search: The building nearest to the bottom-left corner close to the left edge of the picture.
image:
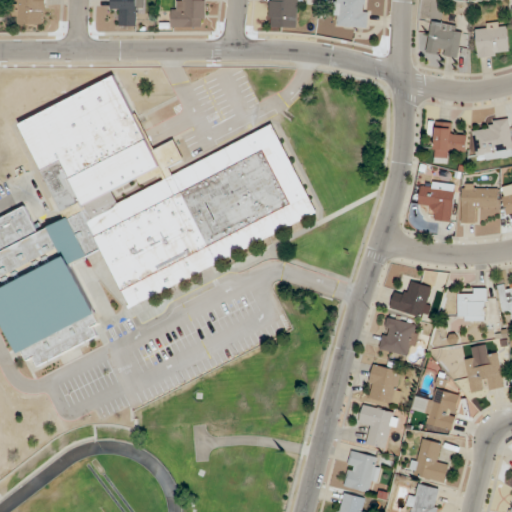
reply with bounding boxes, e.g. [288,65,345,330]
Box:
[0,206,99,367]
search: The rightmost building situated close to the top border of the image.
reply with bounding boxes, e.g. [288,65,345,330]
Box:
[475,22,509,58]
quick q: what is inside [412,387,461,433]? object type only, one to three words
house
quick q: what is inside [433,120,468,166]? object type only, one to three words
house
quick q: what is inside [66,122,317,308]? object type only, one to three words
building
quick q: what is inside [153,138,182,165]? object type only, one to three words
building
